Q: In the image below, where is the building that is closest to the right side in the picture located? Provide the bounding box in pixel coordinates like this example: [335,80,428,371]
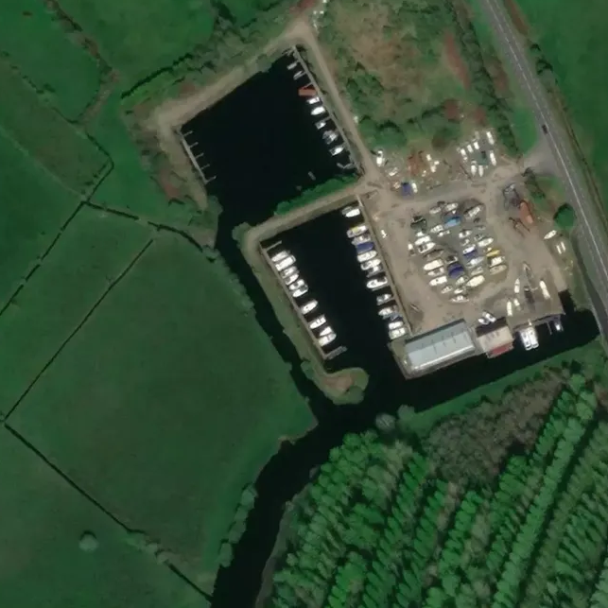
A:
[478,324,518,360]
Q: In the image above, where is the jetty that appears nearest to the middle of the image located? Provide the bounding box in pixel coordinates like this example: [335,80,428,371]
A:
[259,240,347,359]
